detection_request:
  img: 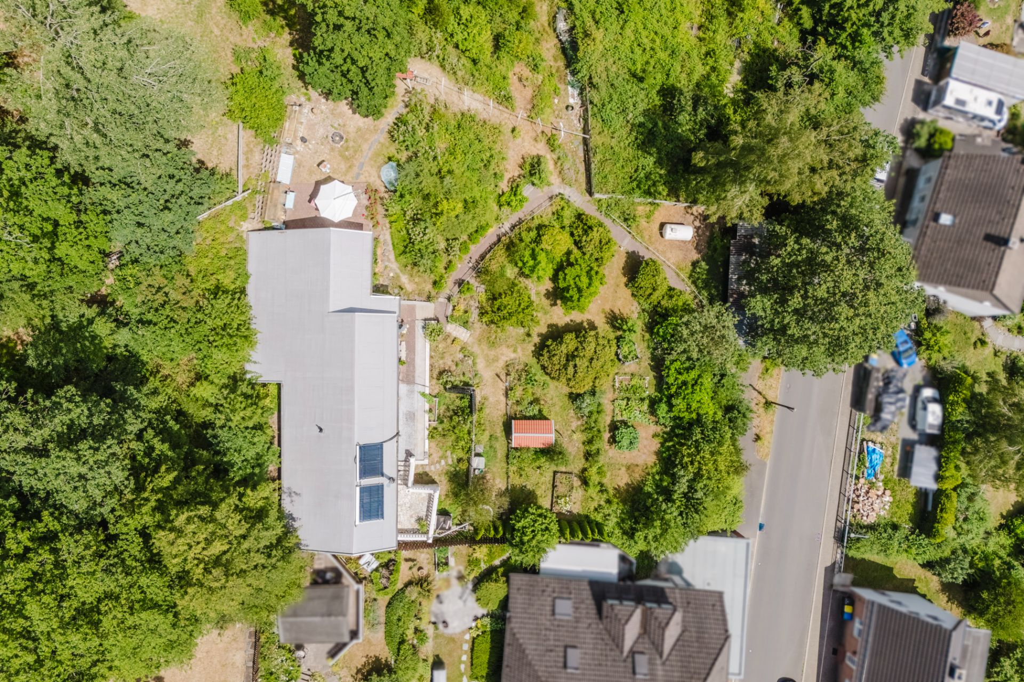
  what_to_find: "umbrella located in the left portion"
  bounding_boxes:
[317,181,375,223]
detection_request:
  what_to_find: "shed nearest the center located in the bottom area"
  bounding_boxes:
[512,418,555,449]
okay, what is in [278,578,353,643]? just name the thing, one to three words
shed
